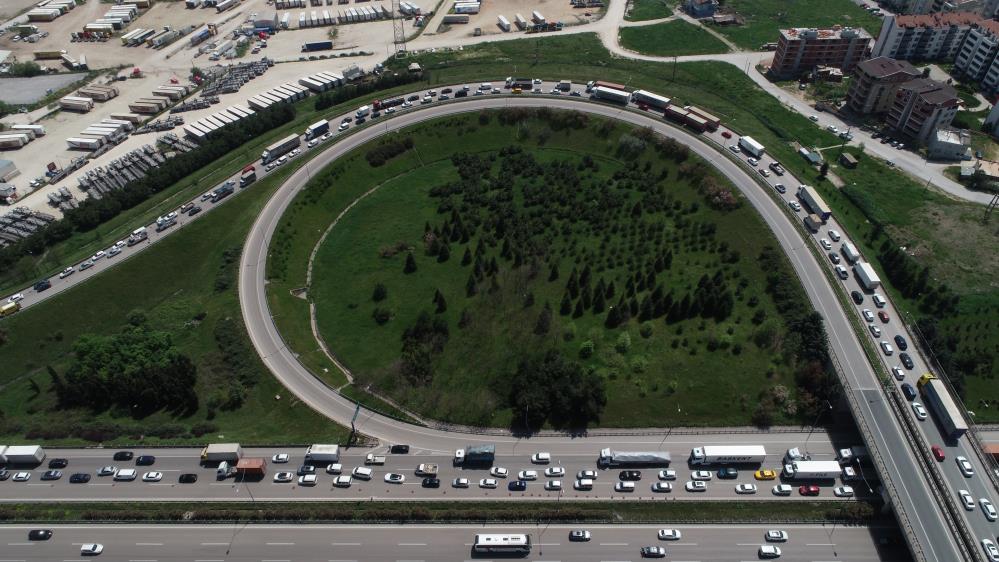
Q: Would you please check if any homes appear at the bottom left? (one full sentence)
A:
No, no home appears at the bottom left.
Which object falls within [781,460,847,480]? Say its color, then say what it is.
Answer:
white vehicle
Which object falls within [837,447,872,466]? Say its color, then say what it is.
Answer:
black vehicle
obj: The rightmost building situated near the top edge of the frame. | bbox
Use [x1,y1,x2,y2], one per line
[956,25,999,96]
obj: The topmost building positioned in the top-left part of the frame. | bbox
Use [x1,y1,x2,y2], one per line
[254,5,281,33]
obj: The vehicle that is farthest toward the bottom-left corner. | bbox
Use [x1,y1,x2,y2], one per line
[27,529,54,542]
